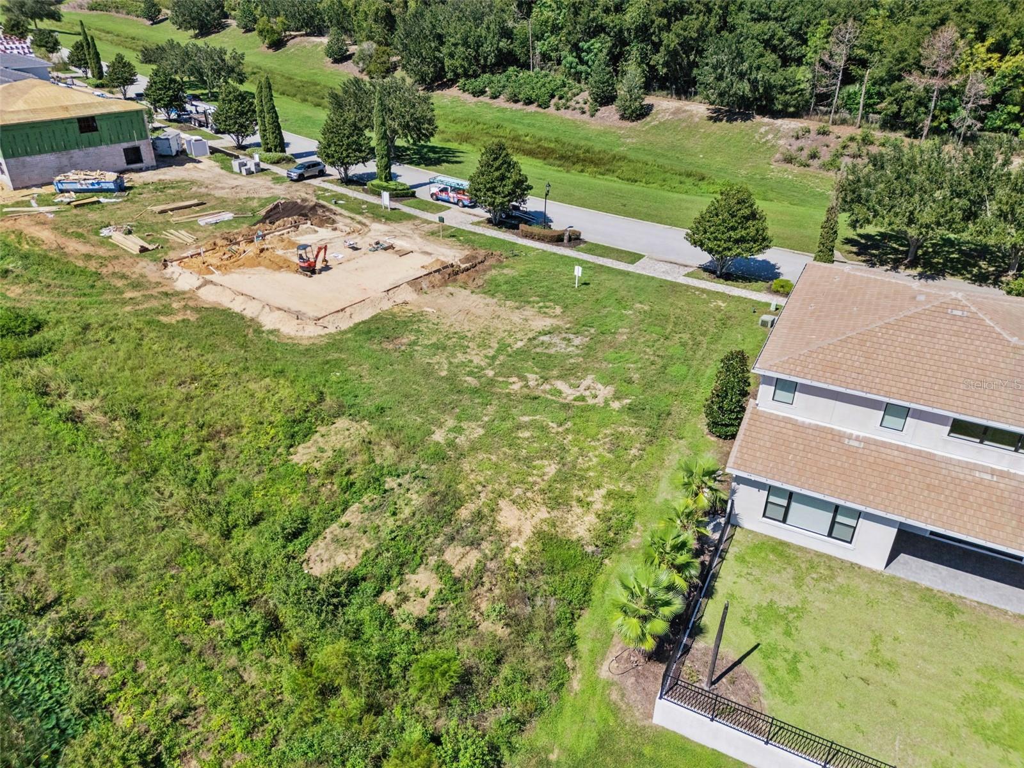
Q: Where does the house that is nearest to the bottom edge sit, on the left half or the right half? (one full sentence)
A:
The house that is nearest to the bottom edge sits on the right side.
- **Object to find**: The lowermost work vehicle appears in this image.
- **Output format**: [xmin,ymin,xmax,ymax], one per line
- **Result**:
[294,236,333,276]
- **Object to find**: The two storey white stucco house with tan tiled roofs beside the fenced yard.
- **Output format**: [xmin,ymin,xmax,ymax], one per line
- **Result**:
[724,263,1024,571]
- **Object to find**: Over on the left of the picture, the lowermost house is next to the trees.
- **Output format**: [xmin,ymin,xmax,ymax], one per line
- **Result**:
[0,78,155,189]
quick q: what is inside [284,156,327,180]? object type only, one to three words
car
